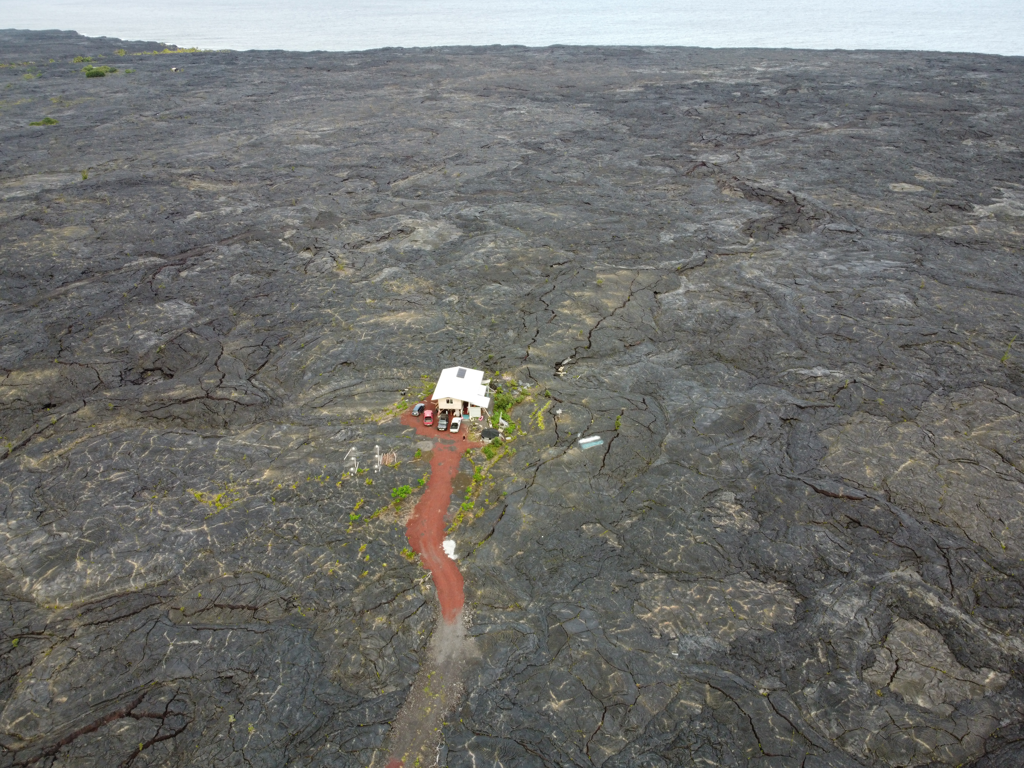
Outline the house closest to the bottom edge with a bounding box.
[432,365,490,419]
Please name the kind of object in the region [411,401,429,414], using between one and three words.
vehicle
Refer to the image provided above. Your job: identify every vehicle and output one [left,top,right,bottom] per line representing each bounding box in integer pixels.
[411,401,429,414]
[423,407,434,423]
[449,413,463,431]
[436,410,447,428]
